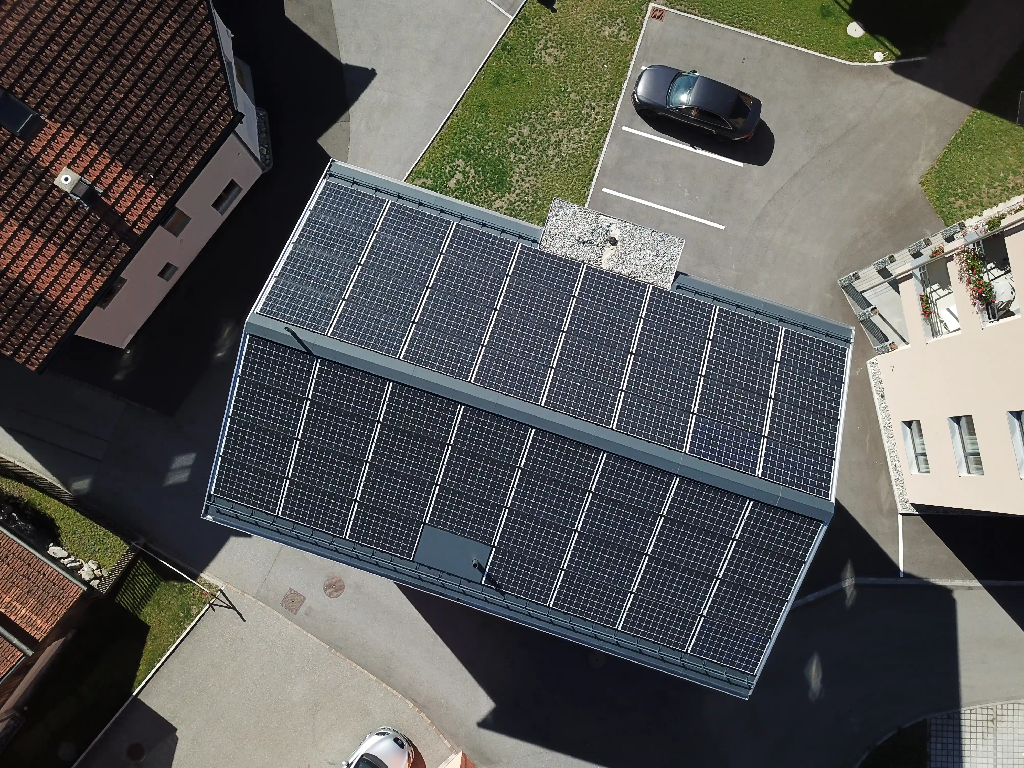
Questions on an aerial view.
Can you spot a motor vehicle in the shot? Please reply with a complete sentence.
Yes, you can see a motor vehicle in this photo.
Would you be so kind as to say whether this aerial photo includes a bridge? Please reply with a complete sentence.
No, I can see no bridge in this picture.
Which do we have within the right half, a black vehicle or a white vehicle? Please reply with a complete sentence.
What appears within the right half is a black vehicle.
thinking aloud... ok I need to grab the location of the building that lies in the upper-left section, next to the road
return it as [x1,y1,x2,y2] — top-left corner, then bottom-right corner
[0,0,263,375]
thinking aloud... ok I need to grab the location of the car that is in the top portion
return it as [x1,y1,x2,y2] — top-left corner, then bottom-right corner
[631,64,764,145]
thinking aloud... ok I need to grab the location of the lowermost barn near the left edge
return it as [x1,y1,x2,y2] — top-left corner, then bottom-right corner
[0,514,114,743]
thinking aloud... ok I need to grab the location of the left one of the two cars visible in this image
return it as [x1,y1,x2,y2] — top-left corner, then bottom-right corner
[338,721,412,768]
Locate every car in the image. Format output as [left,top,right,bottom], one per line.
[338,721,412,768]
[631,64,764,145]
